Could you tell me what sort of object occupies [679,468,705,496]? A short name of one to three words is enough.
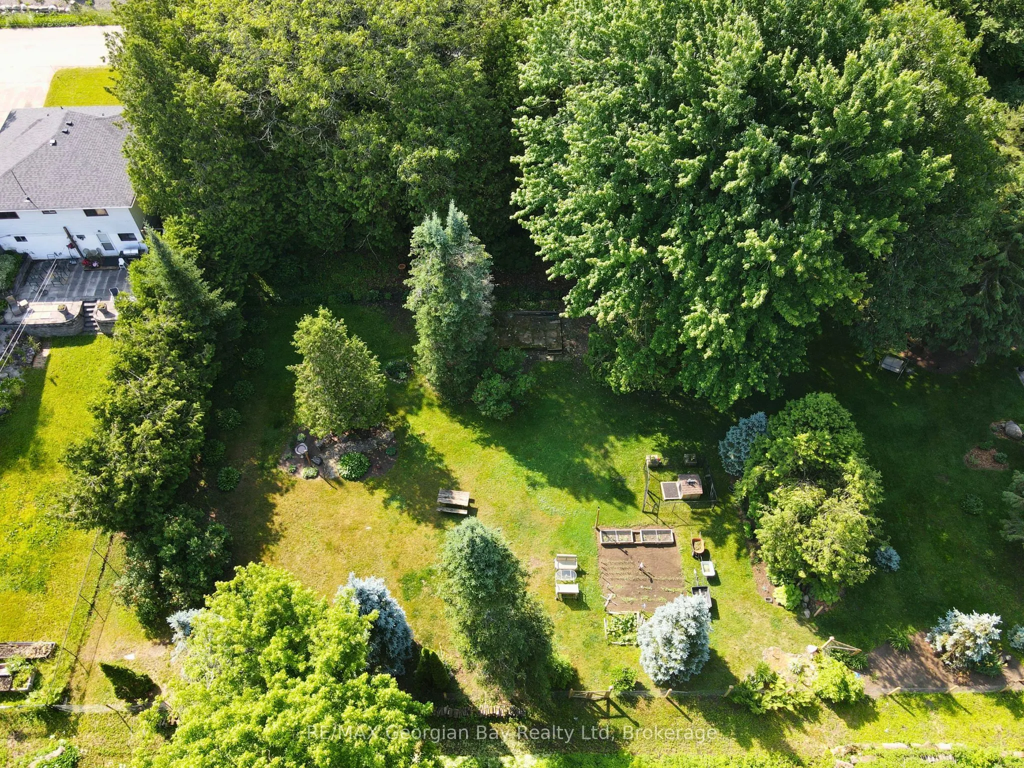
shed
